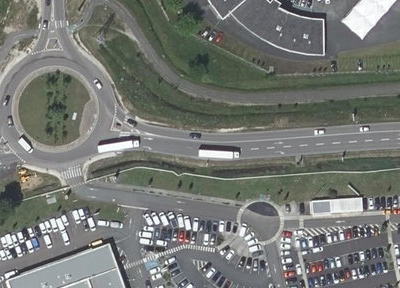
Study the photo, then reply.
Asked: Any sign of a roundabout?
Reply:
Yes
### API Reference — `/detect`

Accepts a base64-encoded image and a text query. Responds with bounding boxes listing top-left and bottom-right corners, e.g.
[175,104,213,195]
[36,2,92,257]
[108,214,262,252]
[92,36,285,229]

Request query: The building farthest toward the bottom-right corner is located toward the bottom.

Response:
[310,197,364,215]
